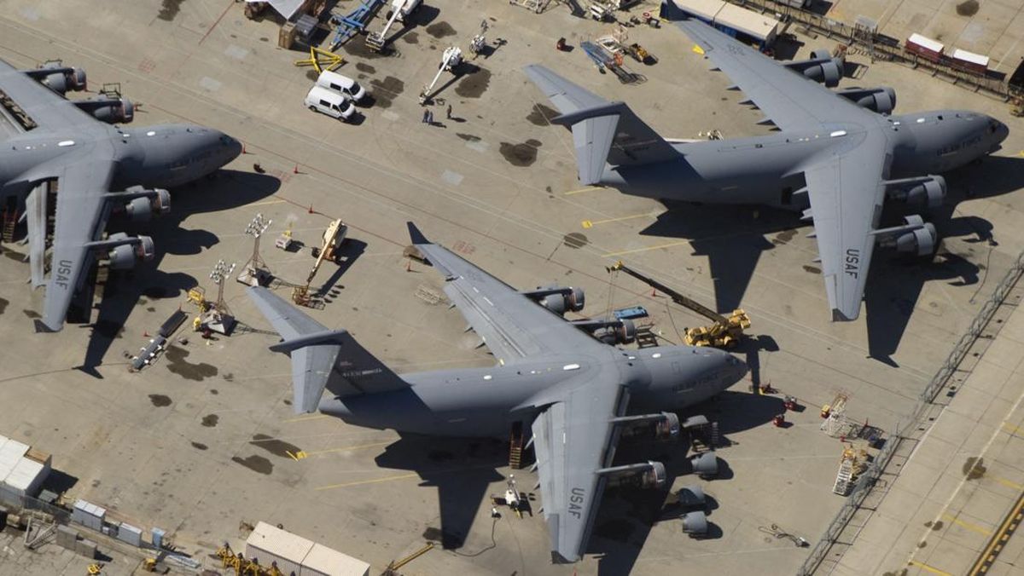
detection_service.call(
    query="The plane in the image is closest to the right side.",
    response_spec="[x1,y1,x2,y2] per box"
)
[519,0,1007,323]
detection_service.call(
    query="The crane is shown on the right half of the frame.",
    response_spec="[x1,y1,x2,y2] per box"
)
[608,259,752,353]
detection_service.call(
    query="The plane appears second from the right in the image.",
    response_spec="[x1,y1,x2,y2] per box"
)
[241,222,749,565]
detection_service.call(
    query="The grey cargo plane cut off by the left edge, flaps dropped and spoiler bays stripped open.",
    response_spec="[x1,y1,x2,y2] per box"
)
[0,58,244,334]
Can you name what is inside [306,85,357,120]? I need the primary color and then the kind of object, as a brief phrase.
white van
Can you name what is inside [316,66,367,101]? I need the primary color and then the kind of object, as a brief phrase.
white van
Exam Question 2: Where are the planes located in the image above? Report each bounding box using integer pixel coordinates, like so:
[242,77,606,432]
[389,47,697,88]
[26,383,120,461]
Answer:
[241,222,749,565]
[519,0,1007,323]
[0,58,244,334]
